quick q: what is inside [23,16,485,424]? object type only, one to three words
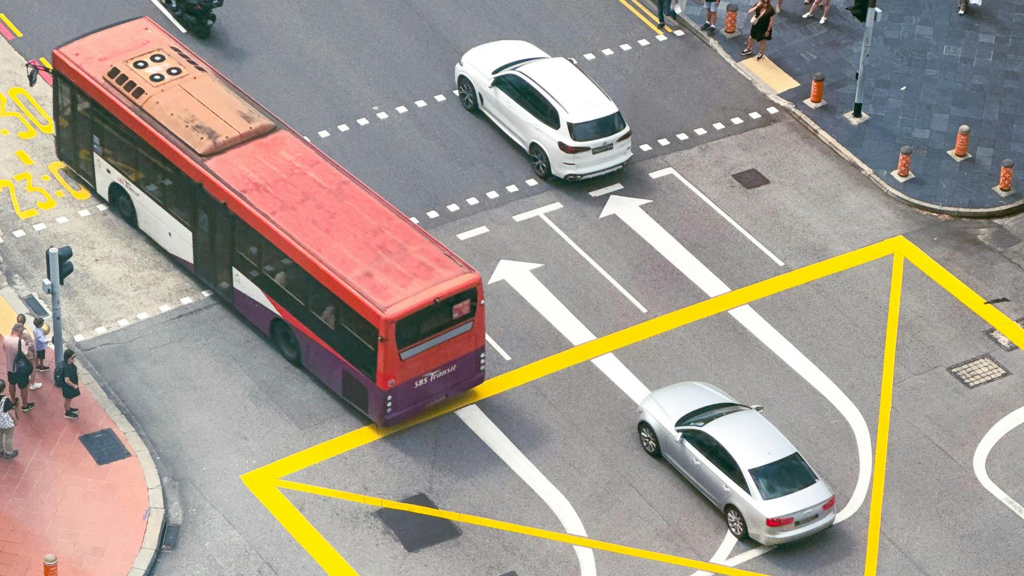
bus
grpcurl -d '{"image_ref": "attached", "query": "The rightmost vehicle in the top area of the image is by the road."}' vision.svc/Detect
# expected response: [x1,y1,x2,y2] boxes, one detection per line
[453,36,635,180]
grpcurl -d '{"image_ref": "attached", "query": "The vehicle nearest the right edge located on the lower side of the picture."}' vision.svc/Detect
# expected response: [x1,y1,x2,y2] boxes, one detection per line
[635,378,837,548]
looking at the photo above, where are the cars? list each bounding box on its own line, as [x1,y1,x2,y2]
[453,36,635,180]
[635,378,837,548]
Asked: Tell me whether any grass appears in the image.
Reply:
No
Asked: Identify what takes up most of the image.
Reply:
paved ground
